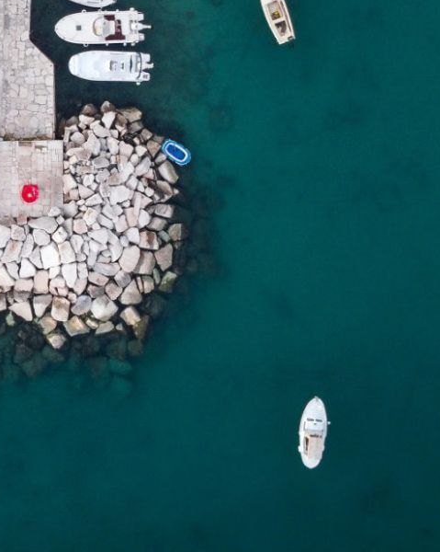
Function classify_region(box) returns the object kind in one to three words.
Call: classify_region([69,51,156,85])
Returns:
boat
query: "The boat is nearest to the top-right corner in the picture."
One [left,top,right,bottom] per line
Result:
[262,0,298,46]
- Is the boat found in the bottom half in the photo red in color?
No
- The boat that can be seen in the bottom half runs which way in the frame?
up and down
